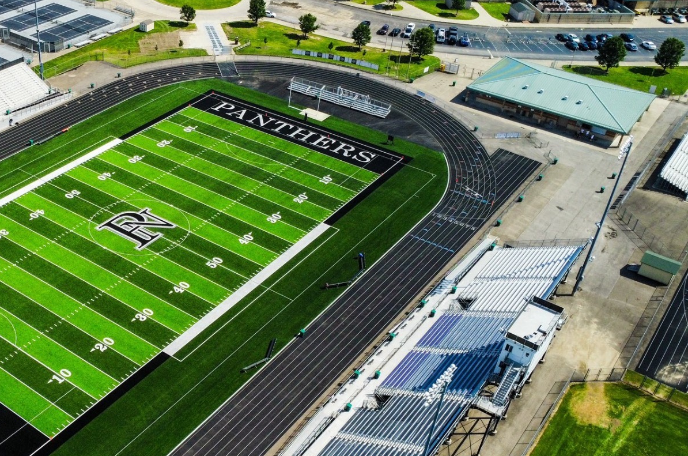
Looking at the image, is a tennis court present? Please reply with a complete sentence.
Yes, a tennis court appears in the view.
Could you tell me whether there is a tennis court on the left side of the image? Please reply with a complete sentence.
Yes, a tennis court appears on the left side of the image.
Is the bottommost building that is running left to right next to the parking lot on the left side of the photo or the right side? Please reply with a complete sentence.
The bottommost building that is running left to right next to the parking lot sits on the right side.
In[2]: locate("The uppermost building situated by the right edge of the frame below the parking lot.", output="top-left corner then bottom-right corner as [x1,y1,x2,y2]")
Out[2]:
[467,56,659,145]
